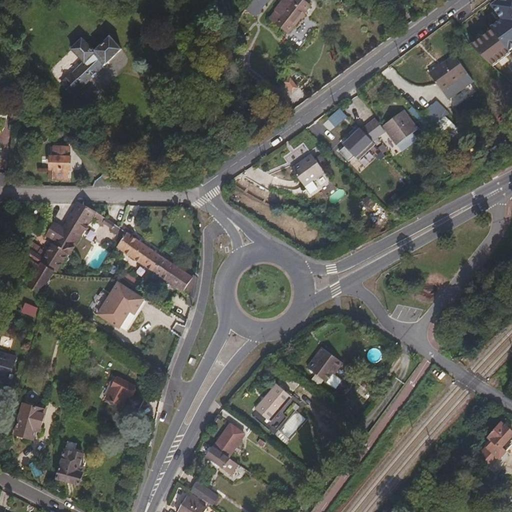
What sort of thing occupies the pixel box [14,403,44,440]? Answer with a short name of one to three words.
house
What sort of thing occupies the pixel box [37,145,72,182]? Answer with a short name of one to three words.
house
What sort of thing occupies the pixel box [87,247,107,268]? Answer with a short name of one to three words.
swimming pool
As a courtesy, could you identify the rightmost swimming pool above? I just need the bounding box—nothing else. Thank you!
[367,347,382,362]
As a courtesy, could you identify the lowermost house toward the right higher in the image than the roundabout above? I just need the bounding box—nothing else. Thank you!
[292,154,329,194]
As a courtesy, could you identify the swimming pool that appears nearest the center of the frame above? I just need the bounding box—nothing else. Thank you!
[328,190,347,202]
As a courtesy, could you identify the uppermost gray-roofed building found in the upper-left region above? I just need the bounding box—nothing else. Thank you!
[70,35,122,81]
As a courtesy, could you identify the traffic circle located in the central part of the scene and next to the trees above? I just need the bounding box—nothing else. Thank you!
[216,242,314,342]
